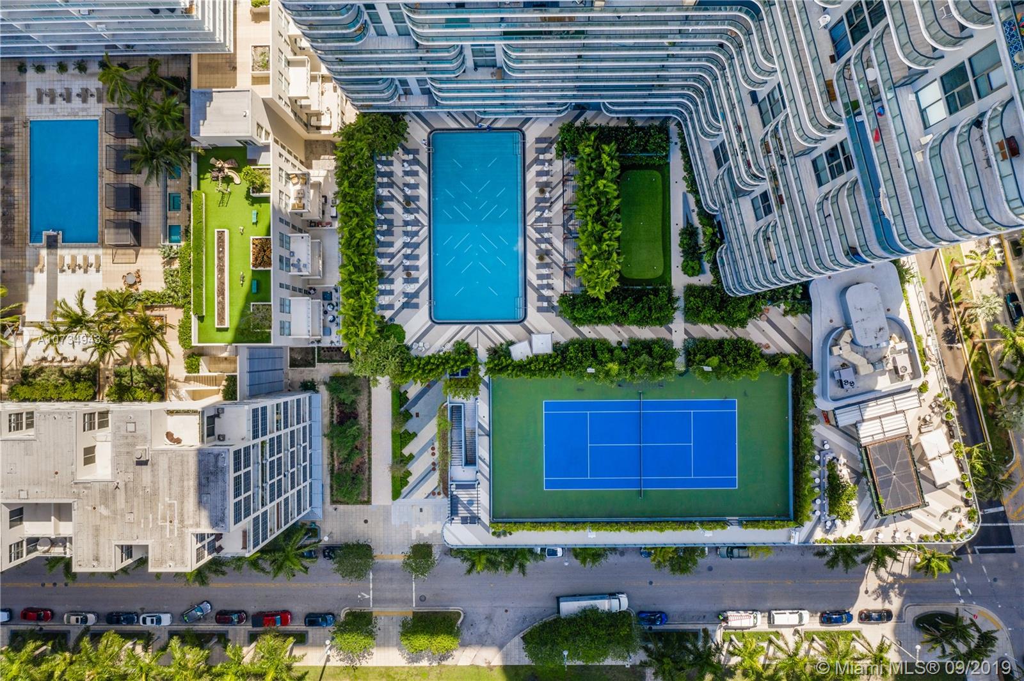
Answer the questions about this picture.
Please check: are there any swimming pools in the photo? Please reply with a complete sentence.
Yes, a swimming pool can be made out from above.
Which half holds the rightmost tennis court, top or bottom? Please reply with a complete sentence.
The rightmost tennis court sits in the bottom half of the picture.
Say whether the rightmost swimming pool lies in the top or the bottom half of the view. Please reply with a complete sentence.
Seen from above, the rightmost swimming pool lies in the top half of the view.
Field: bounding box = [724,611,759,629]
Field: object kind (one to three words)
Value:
vehicle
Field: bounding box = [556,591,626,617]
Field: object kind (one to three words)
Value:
truck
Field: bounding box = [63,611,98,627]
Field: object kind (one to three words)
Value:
car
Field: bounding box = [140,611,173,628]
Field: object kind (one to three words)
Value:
car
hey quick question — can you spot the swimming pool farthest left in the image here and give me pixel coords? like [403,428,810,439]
[27,117,101,246]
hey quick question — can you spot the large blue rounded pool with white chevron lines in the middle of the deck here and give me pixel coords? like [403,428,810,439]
[429,128,529,324]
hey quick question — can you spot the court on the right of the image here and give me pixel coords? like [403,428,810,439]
[491,374,801,528]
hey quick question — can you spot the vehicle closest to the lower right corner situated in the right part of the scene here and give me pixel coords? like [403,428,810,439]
[858,608,892,624]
